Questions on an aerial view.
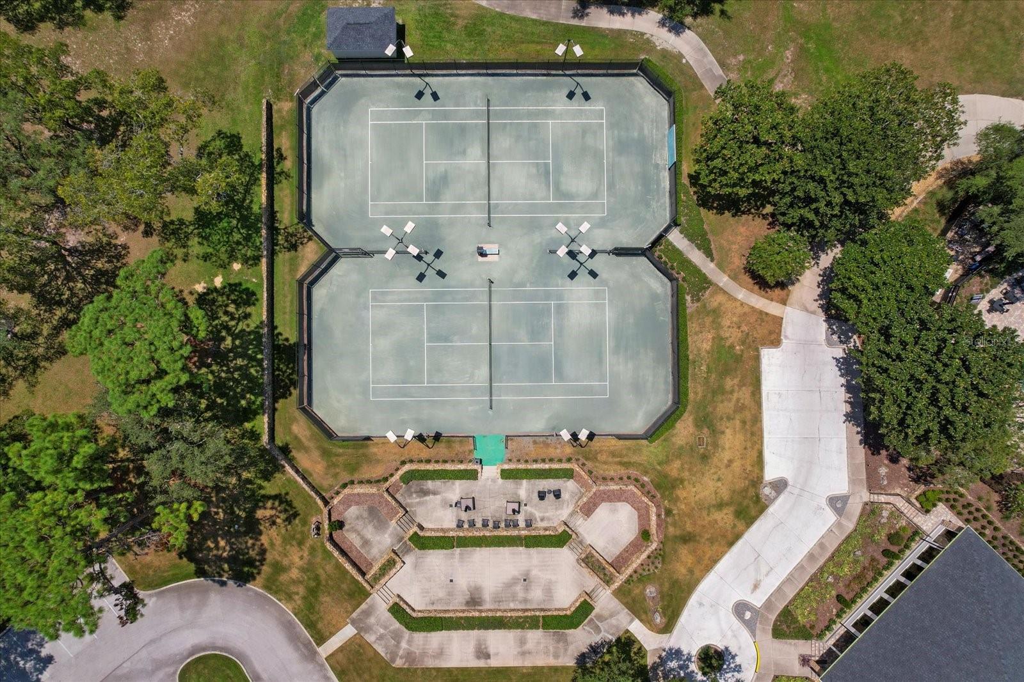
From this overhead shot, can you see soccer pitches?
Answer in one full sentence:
No, I can see no soccer pitch in this picture.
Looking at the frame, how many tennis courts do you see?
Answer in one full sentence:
In total, 2 tennis courts can be seen.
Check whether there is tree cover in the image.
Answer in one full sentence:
Yes, there's tree cover in this view.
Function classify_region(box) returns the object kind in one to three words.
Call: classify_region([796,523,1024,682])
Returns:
building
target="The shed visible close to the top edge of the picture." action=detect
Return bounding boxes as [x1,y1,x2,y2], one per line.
[327,7,397,58]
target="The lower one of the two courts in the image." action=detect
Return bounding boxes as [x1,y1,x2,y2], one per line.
[305,249,673,438]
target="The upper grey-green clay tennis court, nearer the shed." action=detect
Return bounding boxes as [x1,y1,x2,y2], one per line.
[306,70,671,254]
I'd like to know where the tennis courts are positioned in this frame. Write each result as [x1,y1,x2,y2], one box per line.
[306,70,671,254]
[305,249,673,438]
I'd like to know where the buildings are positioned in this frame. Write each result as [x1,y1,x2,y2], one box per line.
[327,7,397,58]
[796,523,1024,682]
